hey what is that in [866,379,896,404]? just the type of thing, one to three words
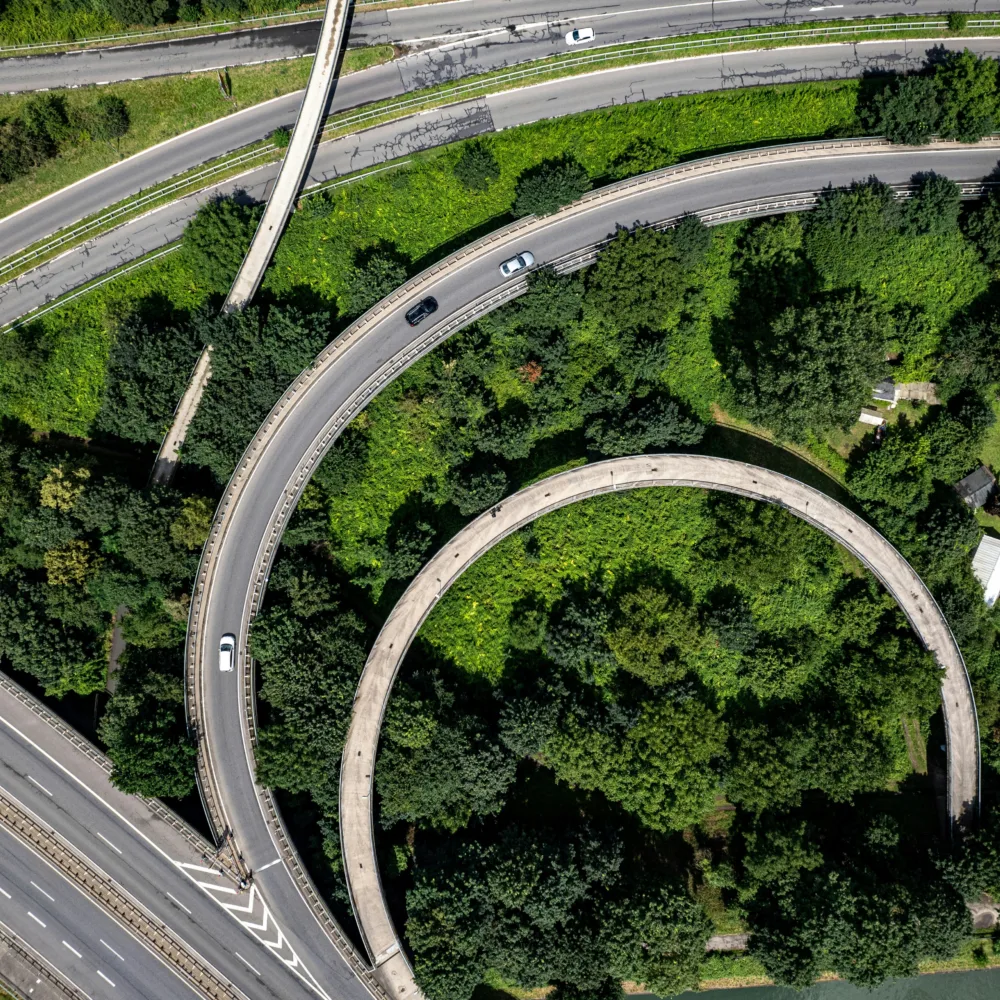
shed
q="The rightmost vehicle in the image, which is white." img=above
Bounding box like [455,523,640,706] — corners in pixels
[565,24,597,45]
